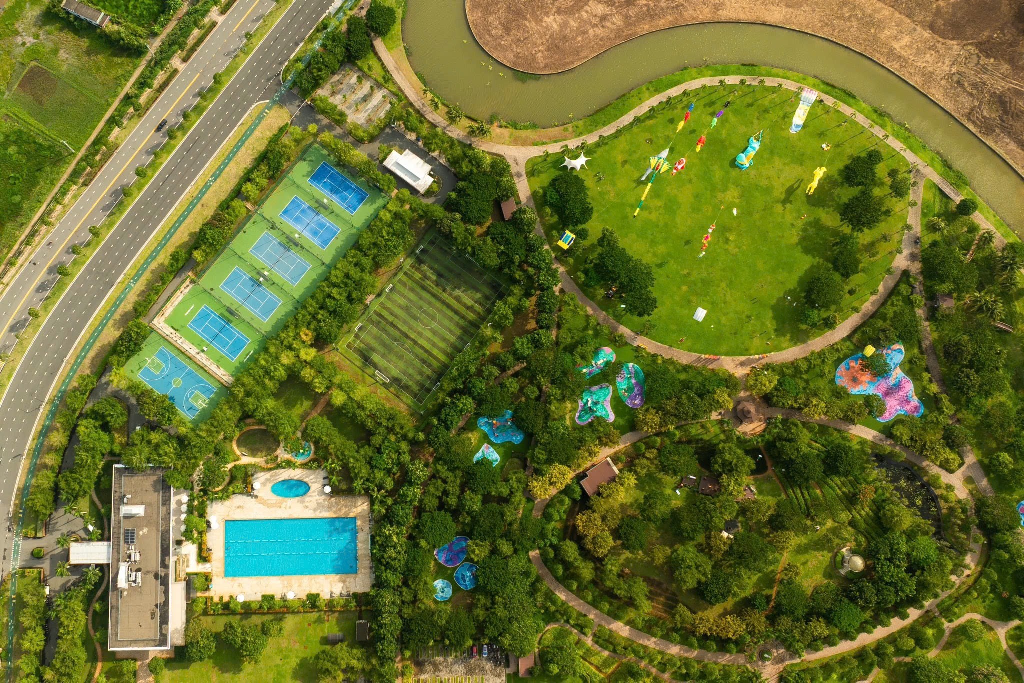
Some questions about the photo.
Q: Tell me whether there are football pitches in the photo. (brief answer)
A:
Yes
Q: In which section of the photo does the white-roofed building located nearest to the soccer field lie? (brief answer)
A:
top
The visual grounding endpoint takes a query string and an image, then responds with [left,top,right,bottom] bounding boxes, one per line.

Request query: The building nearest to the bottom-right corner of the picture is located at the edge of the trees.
[835,544,865,580]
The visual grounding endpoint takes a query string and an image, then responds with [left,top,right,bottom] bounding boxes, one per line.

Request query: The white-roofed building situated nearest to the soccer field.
[384,149,434,195]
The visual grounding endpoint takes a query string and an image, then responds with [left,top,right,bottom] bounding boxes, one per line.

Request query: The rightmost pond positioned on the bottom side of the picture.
[874,455,941,544]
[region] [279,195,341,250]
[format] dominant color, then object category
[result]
blue tennis court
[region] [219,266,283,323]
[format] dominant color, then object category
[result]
blue tennis court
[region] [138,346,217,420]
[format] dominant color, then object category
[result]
blue basketball court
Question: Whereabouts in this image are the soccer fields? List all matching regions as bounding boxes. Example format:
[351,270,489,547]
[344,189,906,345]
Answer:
[346,234,510,405]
